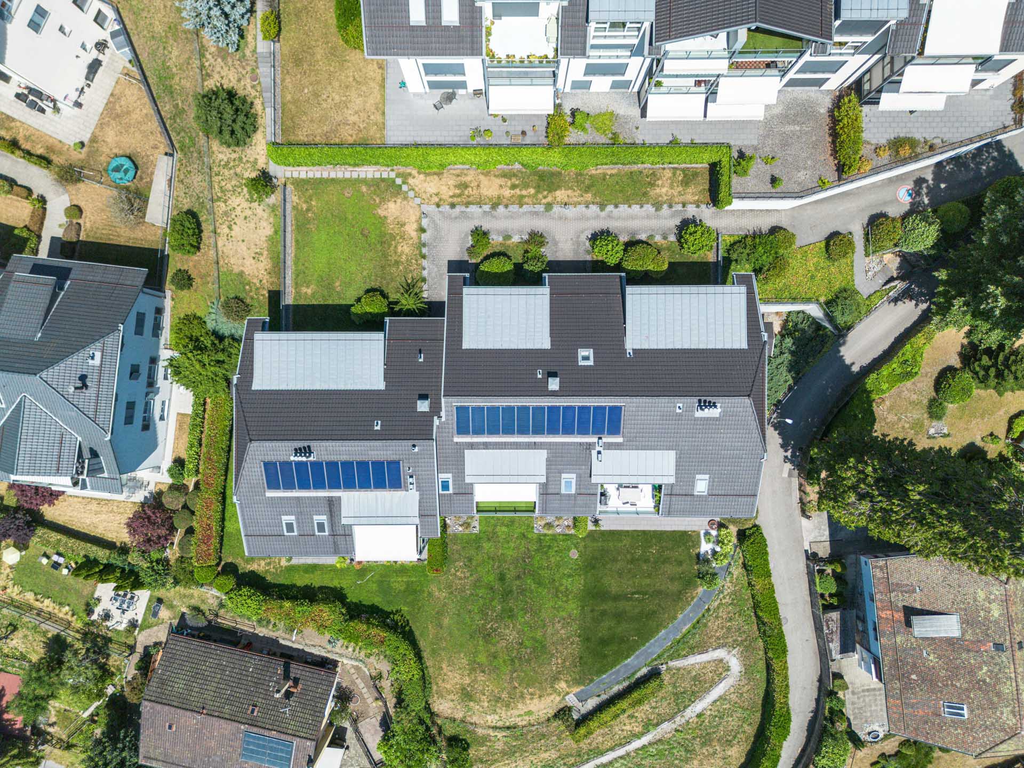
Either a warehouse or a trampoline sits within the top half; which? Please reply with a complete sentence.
You can see a trampoline within the top half.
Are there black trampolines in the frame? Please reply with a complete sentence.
No, this view has no black trampoline in it.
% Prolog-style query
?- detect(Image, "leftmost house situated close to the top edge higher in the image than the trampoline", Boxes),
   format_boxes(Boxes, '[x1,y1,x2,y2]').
[0,0,123,107]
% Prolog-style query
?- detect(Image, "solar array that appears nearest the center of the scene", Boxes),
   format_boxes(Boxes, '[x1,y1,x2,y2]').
[454,405,624,436]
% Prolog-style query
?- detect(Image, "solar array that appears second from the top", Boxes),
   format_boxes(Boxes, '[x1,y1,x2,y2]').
[262,461,404,490]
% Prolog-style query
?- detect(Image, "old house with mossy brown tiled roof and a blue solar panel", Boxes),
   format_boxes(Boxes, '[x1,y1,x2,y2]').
[139,633,346,768]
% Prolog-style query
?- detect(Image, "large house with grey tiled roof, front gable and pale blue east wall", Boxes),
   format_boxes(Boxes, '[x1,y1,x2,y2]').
[0,253,173,494]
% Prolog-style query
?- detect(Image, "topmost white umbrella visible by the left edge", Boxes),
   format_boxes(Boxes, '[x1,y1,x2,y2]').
[3,544,35,564]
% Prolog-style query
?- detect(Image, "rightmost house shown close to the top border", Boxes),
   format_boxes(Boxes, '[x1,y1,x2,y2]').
[778,0,1024,111]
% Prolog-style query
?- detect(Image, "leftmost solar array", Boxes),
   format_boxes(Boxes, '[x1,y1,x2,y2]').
[241,730,295,768]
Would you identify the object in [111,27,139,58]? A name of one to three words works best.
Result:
shed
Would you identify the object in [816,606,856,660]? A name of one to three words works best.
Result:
shed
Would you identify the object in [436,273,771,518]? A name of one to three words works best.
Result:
house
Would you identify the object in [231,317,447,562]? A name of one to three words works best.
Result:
house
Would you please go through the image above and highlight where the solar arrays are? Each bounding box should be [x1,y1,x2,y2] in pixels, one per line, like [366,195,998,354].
[262,461,404,490]
[454,405,624,436]
[241,730,295,768]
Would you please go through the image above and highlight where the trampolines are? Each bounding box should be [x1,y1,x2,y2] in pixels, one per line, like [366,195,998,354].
[103,152,147,188]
